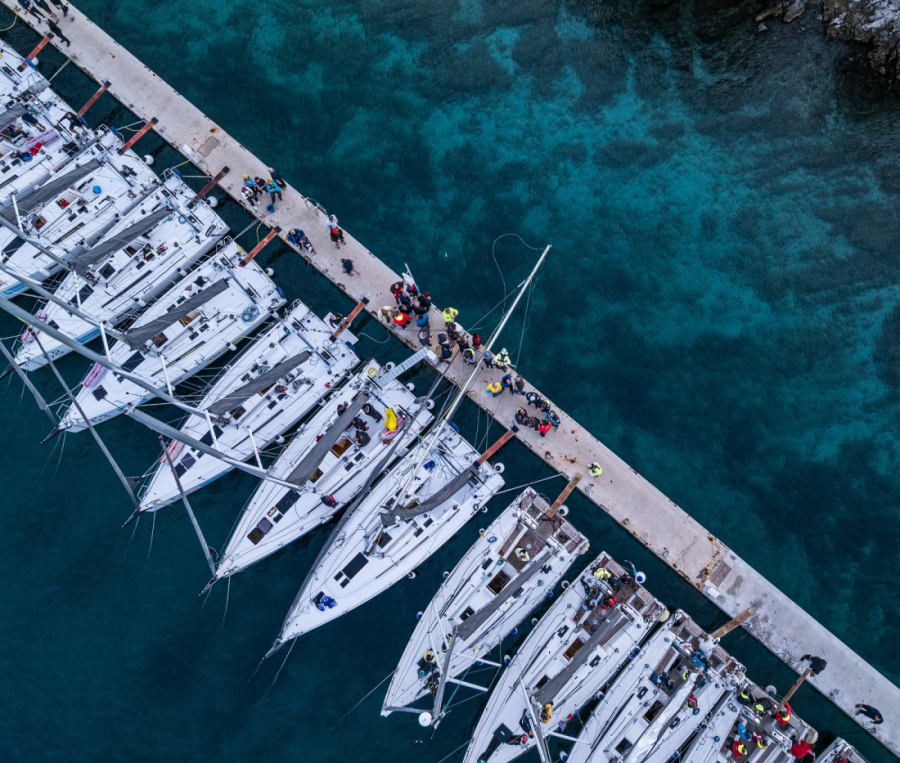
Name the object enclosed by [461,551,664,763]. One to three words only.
boat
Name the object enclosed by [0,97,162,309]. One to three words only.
boat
